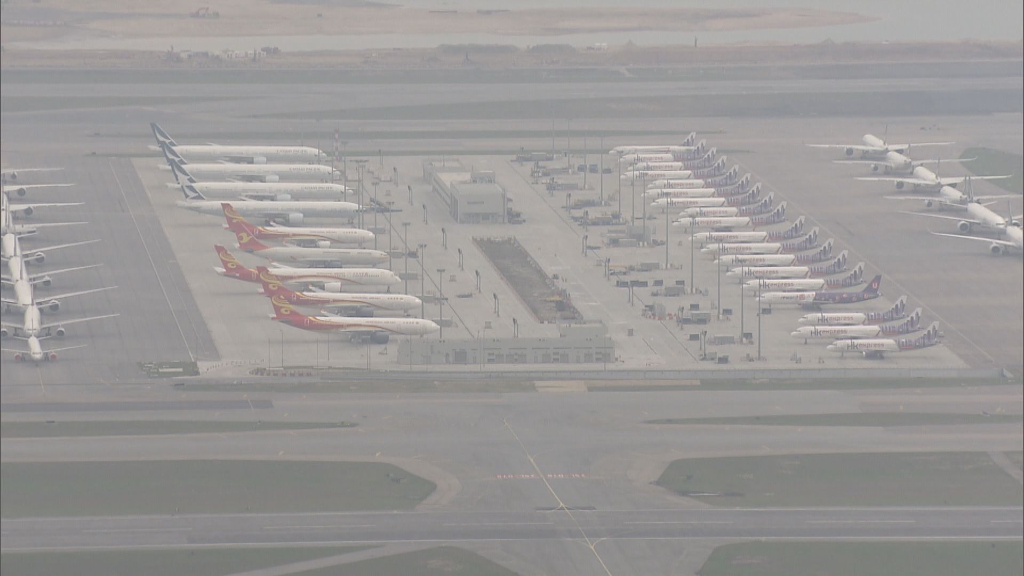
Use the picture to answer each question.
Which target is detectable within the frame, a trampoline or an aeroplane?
aeroplane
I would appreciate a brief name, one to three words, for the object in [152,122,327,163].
airplane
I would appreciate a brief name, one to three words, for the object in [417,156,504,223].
building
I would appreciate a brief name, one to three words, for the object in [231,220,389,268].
airplane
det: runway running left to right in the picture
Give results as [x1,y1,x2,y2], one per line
[0,506,1024,547]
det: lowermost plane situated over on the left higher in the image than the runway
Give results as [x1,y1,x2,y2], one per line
[0,326,86,365]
